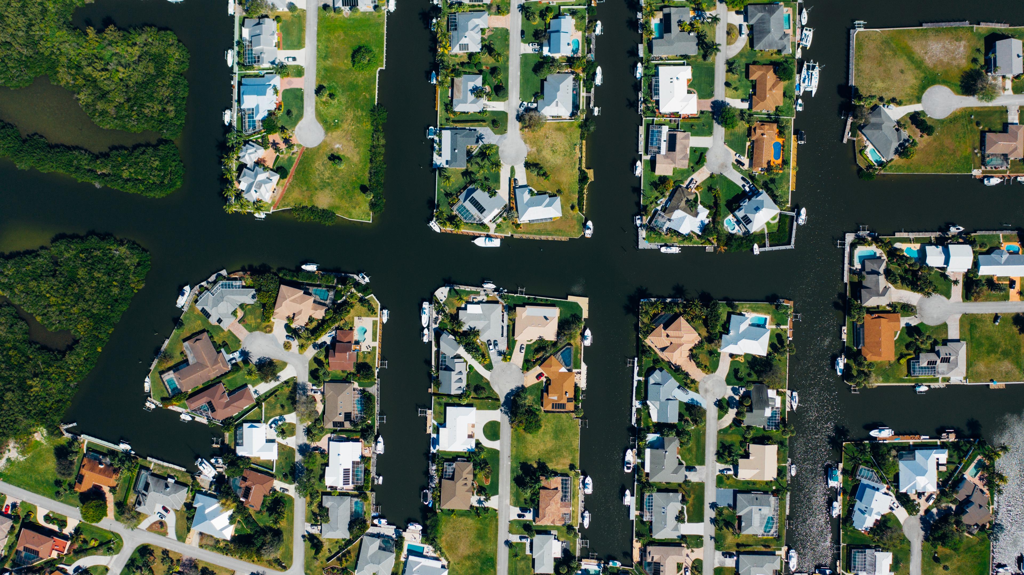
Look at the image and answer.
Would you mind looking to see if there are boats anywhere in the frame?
Yes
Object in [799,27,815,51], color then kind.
white boat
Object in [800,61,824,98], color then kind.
white boat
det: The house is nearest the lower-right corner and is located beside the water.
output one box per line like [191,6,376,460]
[949,478,994,528]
